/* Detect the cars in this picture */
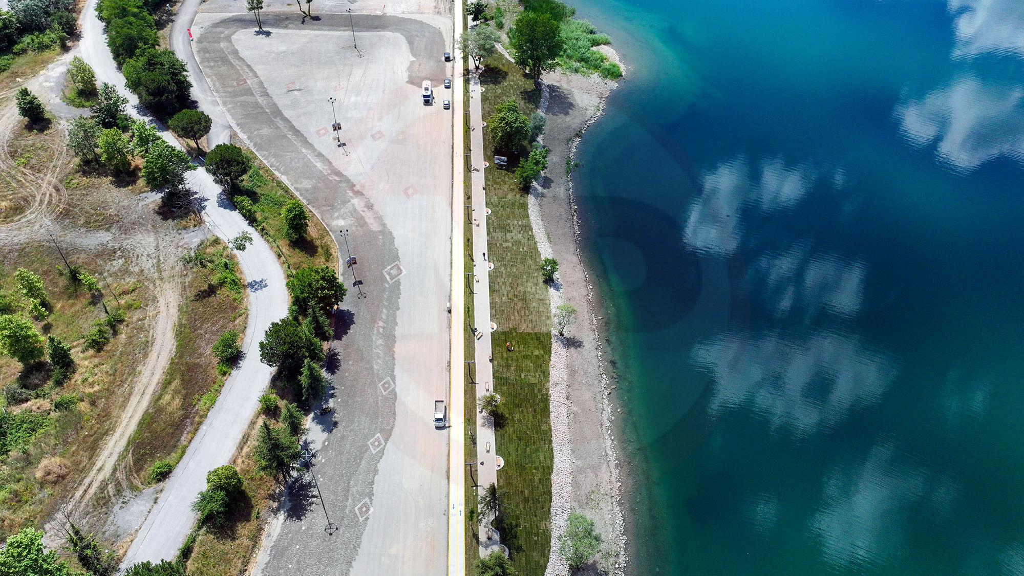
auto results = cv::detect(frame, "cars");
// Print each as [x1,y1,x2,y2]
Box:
[442,98,450,108]
[443,77,451,87]
[444,52,450,61]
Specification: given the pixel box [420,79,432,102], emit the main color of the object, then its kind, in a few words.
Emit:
white vehicle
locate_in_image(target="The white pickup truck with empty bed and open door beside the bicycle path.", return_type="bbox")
[432,396,448,425]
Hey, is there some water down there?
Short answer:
Yes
